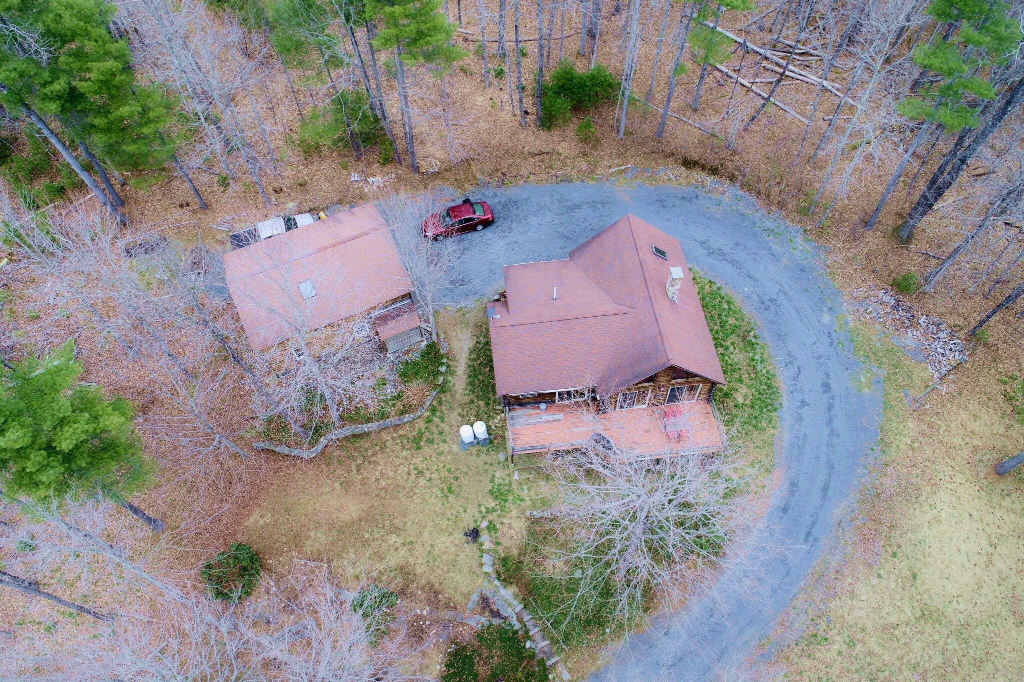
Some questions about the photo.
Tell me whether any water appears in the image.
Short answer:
No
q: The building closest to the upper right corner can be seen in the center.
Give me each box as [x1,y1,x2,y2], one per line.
[488,212,727,417]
